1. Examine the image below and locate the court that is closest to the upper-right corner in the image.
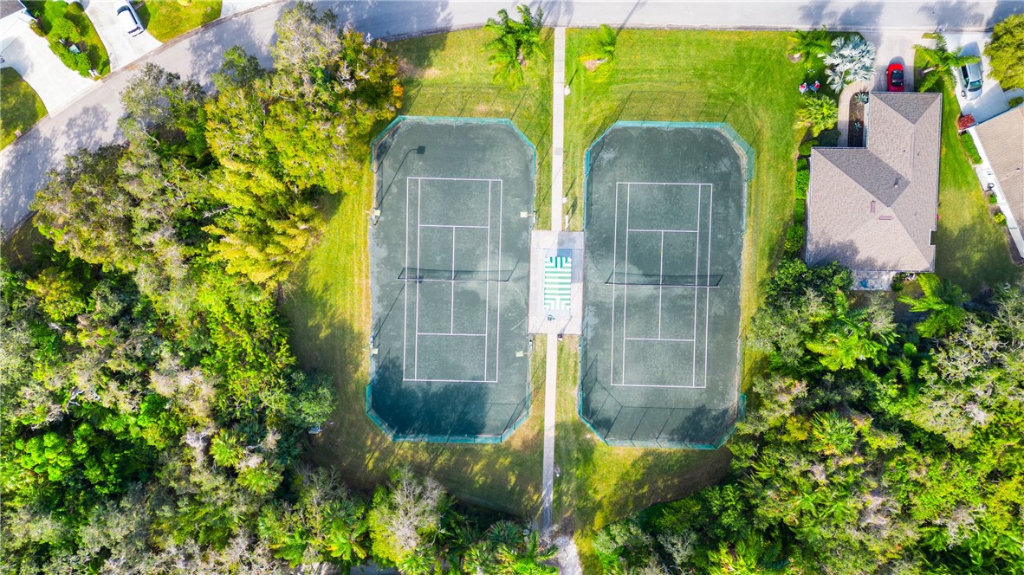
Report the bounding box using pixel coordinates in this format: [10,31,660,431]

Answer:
[578,128,746,442]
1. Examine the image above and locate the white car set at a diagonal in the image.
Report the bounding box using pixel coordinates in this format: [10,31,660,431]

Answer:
[111,0,144,38]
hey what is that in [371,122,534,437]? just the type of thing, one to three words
tennis court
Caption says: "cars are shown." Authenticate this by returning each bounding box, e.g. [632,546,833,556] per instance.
[956,52,984,97]
[886,63,908,91]
[111,0,144,38]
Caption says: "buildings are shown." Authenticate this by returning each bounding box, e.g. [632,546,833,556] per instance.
[969,103,1024,250]
[801,90,943,274]
[0,0,33,30]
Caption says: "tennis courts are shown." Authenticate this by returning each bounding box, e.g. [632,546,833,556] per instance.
[578,128,746,442]
[371,122,534,437]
